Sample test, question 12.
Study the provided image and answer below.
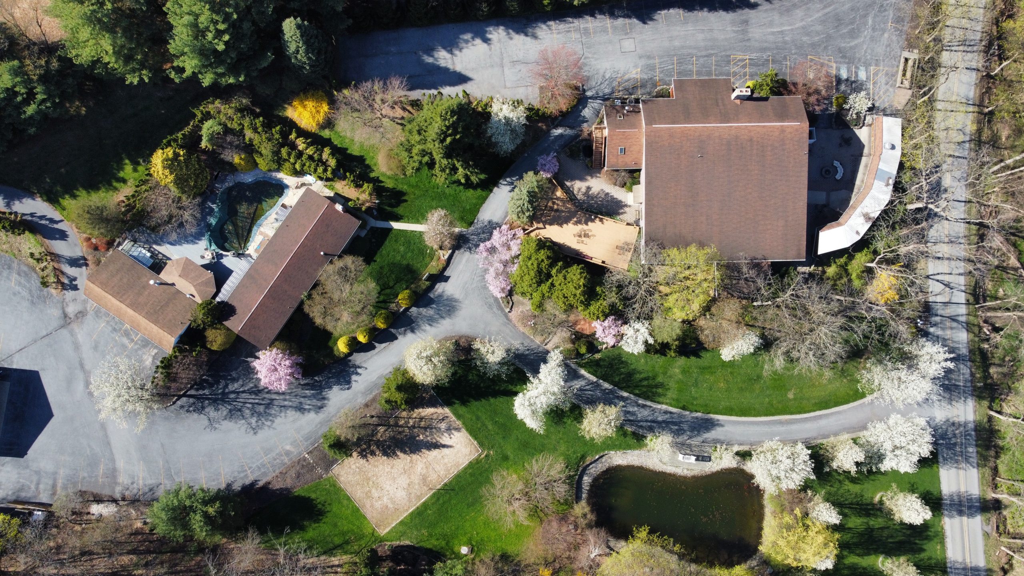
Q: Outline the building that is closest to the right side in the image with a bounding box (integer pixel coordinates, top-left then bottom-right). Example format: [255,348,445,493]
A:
[809,117,902,256]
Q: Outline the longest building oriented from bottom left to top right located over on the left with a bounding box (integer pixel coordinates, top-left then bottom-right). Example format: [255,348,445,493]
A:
[216,187,362,349]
